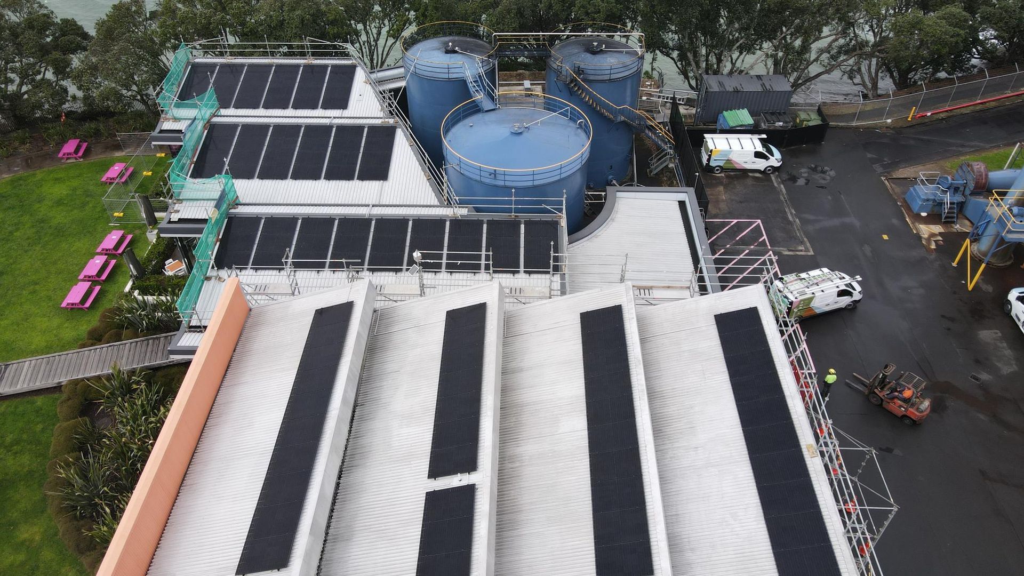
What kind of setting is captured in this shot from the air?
industrial area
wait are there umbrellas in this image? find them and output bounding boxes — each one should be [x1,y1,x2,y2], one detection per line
[138,200,161,242]
[117,241,140,271]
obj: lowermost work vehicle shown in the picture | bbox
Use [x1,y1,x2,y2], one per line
[847,361,934,427]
